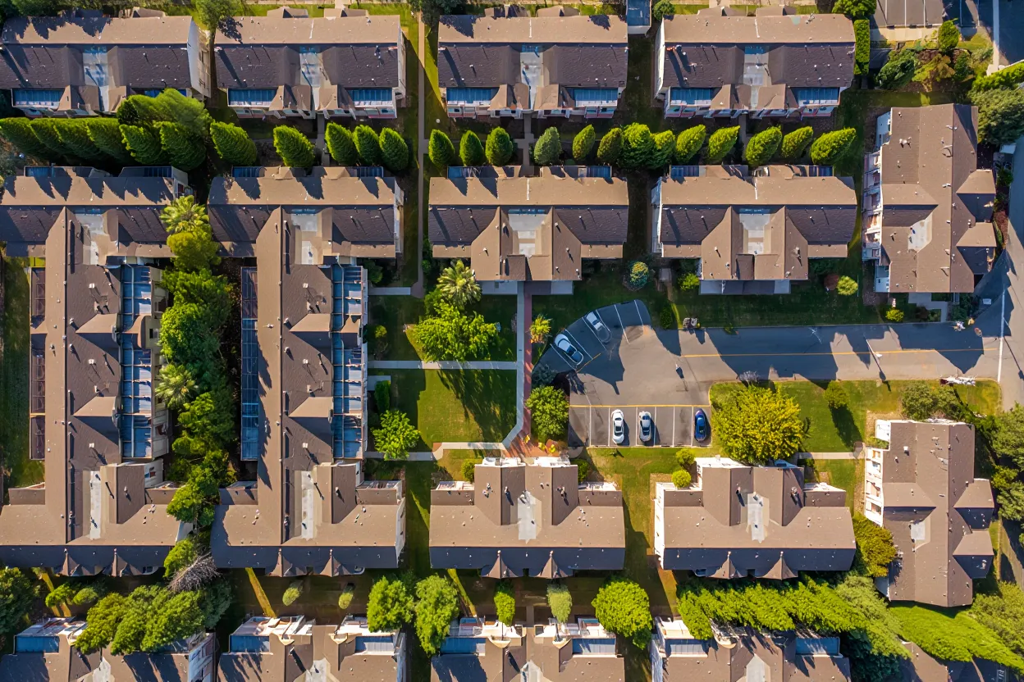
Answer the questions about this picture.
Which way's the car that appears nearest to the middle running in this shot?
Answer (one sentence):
Seen from above, the car that appears nearest to the middle lies diagonally.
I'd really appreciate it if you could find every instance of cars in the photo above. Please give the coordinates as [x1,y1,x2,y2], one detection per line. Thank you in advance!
[554,332,584,365]
[583,310,614,343]
[609,409,626,444]
[693,409,710,442]
[638,410,654,443]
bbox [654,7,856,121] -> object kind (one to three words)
building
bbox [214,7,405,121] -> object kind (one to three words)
building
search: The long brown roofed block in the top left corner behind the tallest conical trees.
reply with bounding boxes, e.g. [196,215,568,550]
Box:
[0,7,211,121]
